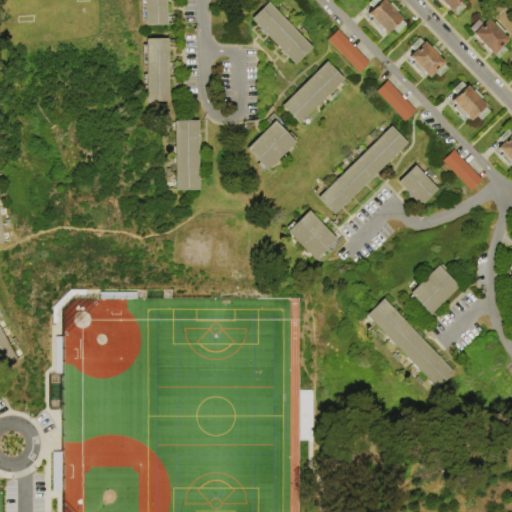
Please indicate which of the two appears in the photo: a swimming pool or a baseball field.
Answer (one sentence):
It is a baseball field that can be seen here.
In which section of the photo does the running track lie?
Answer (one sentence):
The running track sits in the bottom section of the image.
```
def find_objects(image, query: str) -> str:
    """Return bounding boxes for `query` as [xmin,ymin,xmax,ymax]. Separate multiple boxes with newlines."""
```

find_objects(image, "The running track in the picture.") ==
[262,298,300,512]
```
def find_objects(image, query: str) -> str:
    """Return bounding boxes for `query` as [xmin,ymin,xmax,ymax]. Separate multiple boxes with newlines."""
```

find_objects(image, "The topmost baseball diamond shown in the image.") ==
[63,299,141,379]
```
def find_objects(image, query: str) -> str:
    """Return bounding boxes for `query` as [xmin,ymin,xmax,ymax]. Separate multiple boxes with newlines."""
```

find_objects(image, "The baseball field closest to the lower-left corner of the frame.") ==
[64,434,170,512]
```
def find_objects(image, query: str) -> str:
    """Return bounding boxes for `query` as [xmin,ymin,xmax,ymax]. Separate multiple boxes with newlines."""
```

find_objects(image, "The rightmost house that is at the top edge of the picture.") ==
[474,18,510,56]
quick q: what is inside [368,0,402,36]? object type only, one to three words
house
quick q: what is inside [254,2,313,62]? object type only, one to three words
building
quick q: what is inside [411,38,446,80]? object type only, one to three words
house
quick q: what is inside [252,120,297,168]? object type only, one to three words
building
